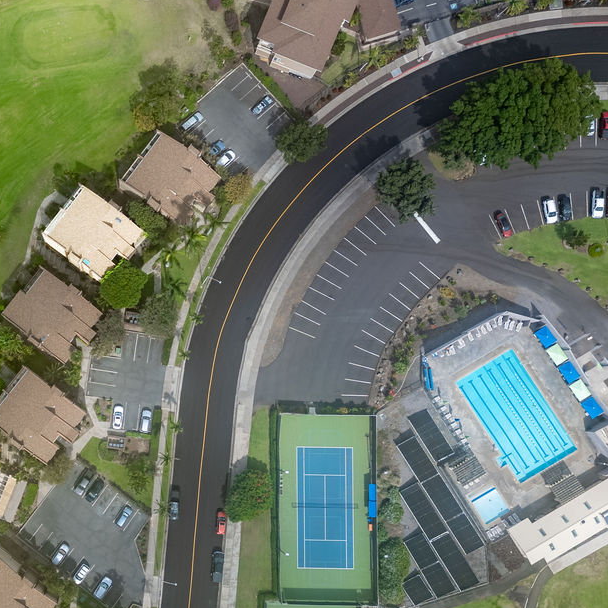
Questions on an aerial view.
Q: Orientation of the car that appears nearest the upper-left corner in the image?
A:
at an angle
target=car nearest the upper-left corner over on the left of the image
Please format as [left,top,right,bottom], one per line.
[180,110,205,133]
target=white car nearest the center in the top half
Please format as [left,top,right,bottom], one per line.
[215,147,237,167]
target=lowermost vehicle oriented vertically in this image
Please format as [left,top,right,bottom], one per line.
[210,551,223,581]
